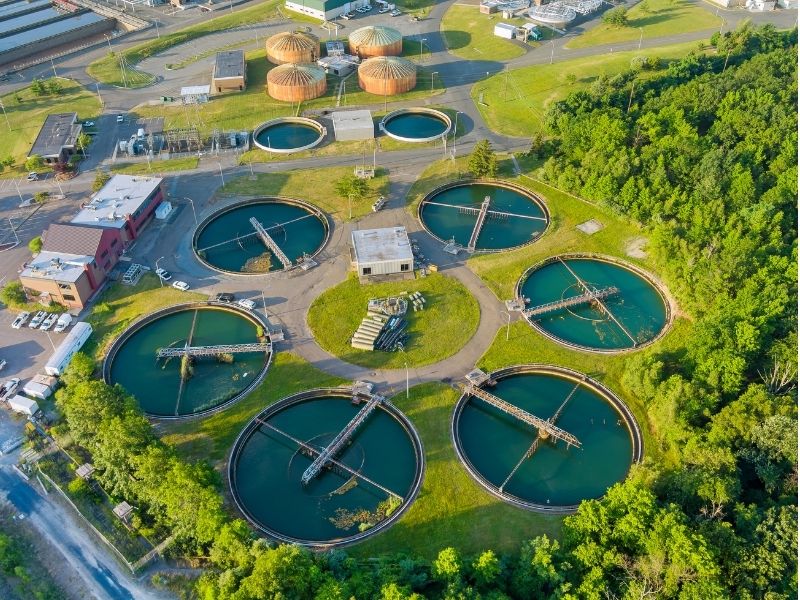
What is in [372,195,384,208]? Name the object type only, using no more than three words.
vehicle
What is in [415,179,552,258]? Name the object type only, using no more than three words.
storage tank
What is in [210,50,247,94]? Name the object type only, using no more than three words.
building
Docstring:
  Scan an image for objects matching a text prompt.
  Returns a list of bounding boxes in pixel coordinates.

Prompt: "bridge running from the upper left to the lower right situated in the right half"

[467,377,581,455]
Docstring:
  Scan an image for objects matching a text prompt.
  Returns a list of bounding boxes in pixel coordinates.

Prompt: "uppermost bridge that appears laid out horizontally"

[516,288,623,315]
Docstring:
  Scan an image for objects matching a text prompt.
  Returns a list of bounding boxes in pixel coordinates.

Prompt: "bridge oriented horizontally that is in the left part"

[155,343,276,362]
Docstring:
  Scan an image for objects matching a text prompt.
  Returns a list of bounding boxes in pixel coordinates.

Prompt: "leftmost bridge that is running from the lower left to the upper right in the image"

[300,391,388,488]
